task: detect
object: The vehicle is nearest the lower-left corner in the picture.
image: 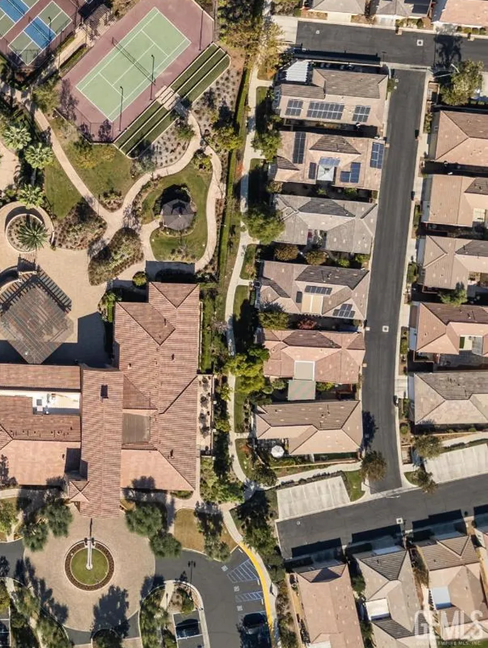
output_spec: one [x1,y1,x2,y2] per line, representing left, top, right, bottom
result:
[178,623,201,640]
